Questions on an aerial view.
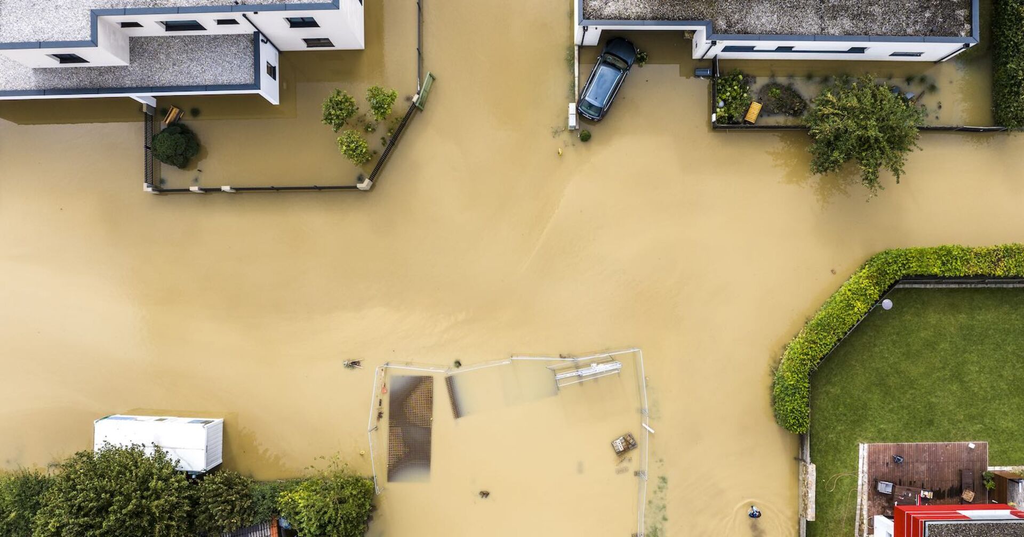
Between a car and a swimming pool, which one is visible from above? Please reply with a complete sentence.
It is a car that can be seen here.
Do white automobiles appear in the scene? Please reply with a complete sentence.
No, no white automobile can be seen from above.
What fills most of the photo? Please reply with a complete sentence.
The largest share of the image is taken up by water.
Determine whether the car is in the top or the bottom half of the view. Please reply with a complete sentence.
The car sits in the top half of the picture.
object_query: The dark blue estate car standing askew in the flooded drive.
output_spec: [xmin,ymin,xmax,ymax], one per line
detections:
[576,38,638,129]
